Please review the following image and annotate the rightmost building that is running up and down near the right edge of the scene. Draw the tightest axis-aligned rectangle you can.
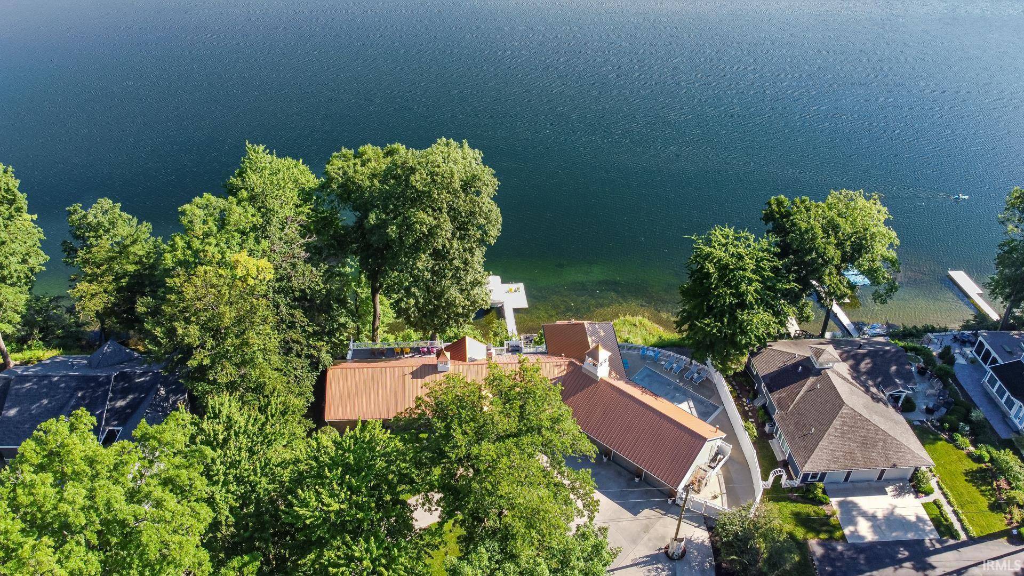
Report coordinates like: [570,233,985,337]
[972,326,1024,441]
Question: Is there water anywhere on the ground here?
Yes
